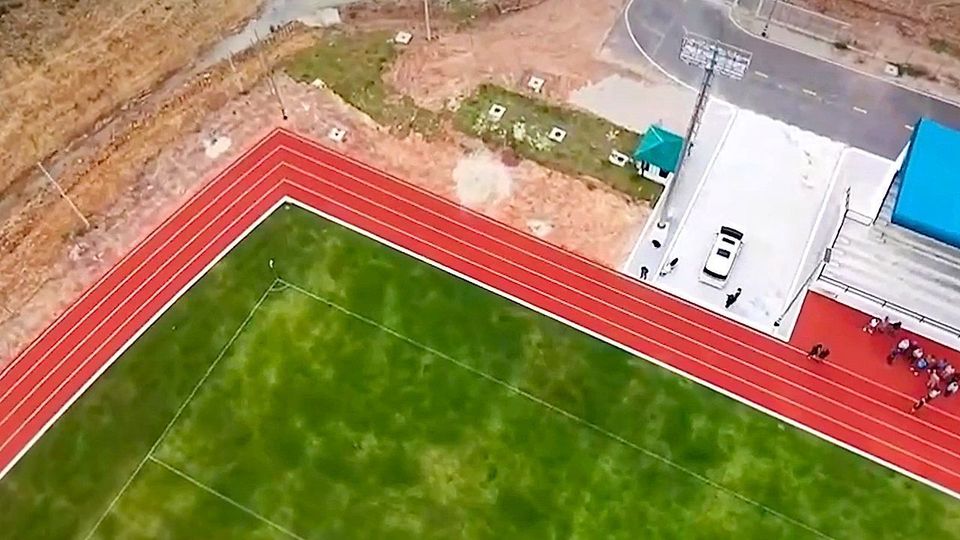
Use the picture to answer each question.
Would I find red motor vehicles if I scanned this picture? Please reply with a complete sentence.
No, I find no red motor vehicle anywhere in the image.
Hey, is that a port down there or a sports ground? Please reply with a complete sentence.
What you see here is a sports ground.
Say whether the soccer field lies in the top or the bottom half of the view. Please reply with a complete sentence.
The bottom half of the photo is where the soccer field is.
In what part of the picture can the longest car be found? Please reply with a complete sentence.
Look in the right portion of the view to spot the longest car.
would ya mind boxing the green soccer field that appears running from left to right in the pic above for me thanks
[0,202,960,540]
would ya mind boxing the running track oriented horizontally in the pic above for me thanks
[0,127,960,502]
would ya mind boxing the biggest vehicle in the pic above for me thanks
[700,222,745,287]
